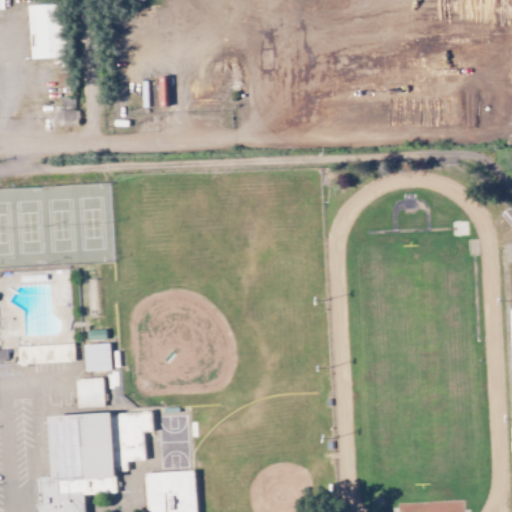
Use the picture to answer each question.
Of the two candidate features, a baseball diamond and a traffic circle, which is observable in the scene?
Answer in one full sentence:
There is a baseball diamond in the scene.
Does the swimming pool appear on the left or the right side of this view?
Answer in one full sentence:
The swimming pool is on the left side of the image.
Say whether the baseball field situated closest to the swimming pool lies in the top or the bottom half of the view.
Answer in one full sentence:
The bottom half of the photo is where the baseball field situated closest to the swimming pool is.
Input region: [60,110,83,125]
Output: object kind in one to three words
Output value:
house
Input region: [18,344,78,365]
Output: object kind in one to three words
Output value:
building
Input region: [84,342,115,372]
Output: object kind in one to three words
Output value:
building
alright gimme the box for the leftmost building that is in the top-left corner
[28,4,66,60]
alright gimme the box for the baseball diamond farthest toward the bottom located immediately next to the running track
[252,463,315,512]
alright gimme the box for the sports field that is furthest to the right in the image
[345,188,492,512]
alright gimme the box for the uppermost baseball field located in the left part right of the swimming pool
[131,288,238,397]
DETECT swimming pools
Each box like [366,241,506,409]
[0,266,74,352]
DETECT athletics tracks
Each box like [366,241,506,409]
[329,172,510,512]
